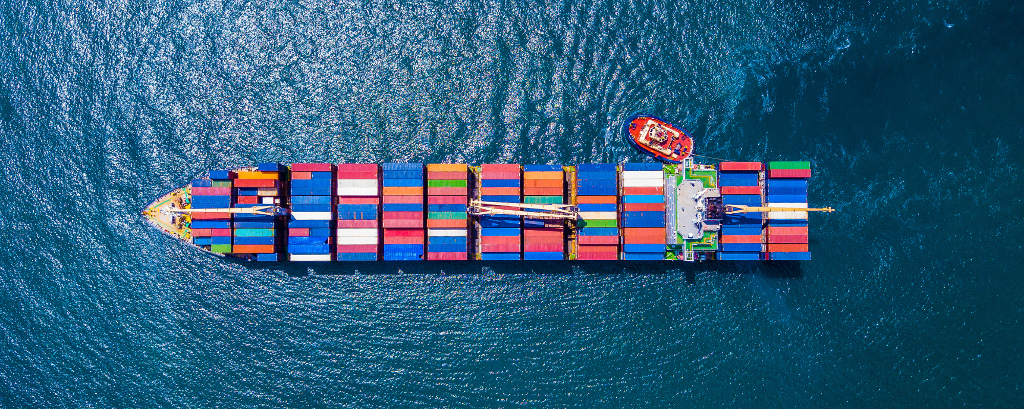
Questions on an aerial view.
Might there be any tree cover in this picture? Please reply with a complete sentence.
No, the scene doesn't show any tree cover.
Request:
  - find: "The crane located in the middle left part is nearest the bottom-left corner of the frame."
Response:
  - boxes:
[156,204,292,217]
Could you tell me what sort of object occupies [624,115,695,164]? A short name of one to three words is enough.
boat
